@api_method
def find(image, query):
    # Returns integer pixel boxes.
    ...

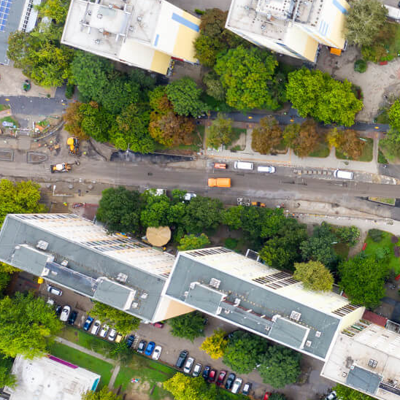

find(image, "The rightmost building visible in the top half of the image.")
[225,0,351,66]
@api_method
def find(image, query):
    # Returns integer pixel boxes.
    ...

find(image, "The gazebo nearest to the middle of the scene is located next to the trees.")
[146,225,173,248]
